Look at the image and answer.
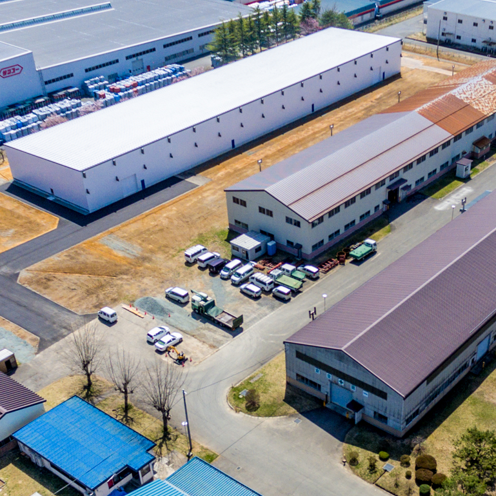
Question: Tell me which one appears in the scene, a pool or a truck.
truck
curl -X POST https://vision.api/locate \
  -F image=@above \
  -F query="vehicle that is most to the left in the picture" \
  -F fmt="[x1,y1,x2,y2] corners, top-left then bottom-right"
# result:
[98,306,118,324]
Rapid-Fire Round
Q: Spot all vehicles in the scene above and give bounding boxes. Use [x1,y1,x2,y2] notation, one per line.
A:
[243,255,261,266]
[281,259,305,278]
[352,237,375,256]
[219,259,243,278]
[183,244,208,263]
[268,267,302,289]
[98,306,118,324]
[248,272,274,291]
[172,340,184,364]
[164,286,189,303]
[154,334,183,353]
[196,253,220,269]
[209,259,227,274]
[299,266,322,280]
[145,328,170,345]
[239,284,263,298]
[178,285,246,327]
[272,284,292,300]
[231,263,255,283]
